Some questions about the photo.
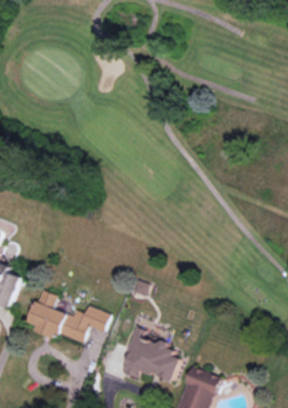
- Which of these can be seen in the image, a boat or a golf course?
golf course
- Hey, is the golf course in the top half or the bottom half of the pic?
top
